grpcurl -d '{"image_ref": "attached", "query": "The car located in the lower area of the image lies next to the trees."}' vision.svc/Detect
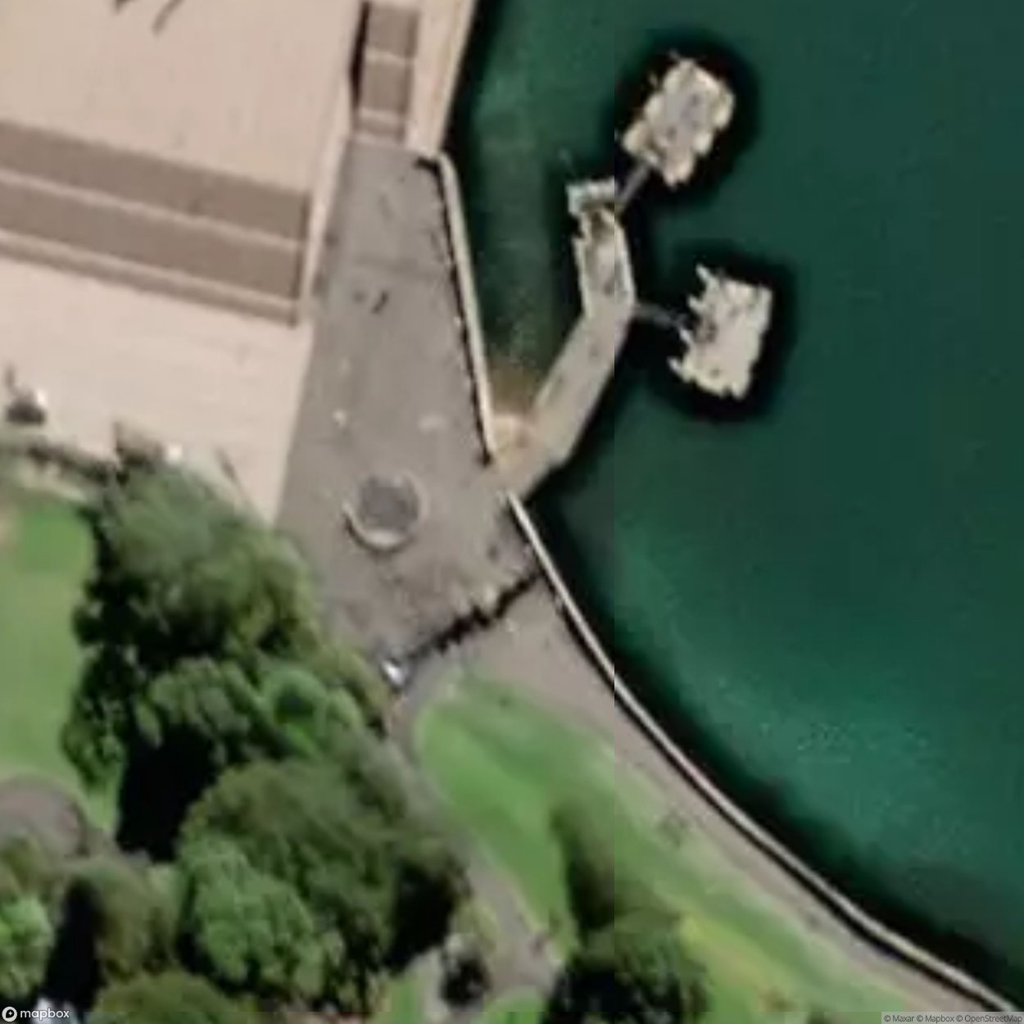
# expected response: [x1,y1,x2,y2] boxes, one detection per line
[385,662,409,693]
